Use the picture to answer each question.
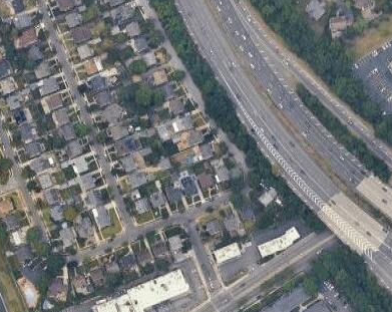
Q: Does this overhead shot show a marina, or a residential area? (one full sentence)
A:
What you see here is a residential area.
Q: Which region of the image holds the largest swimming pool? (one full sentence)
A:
The largest swimming pool is located in the bottom left region of the scene.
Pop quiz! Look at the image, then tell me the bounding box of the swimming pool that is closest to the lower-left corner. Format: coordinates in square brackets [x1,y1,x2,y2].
[20,276,39,311]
